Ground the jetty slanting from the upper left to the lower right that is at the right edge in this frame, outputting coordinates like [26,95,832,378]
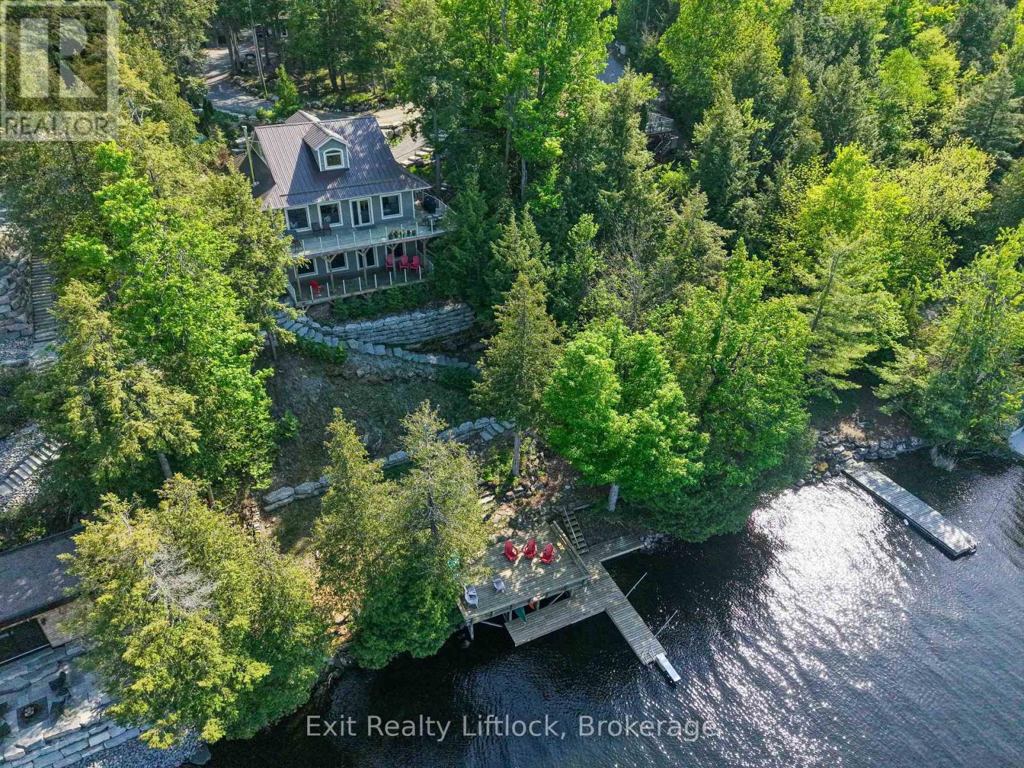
[844,465,980,562]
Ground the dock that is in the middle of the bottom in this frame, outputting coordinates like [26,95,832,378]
[503,533,671,669]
